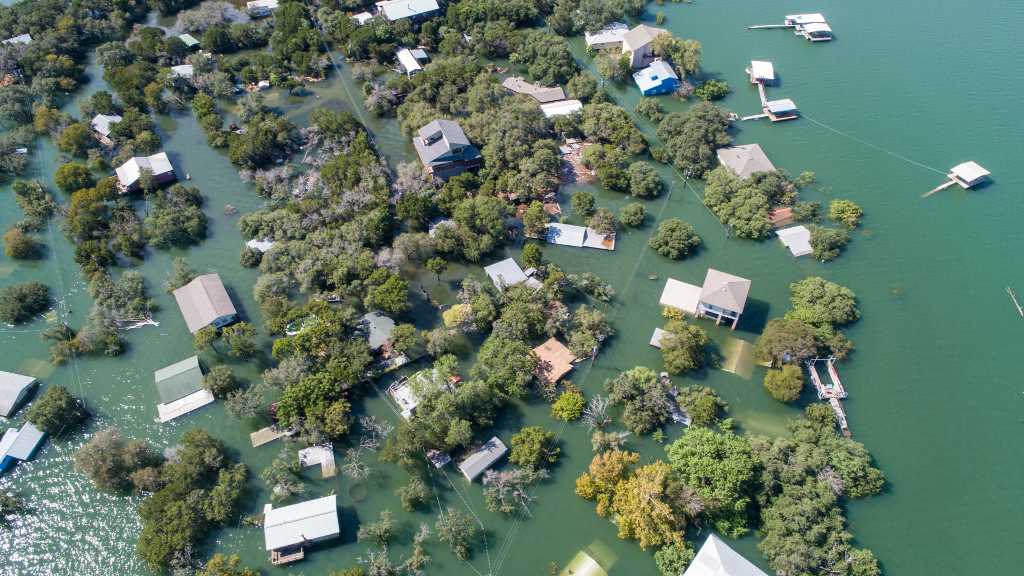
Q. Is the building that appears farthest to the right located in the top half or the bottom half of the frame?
top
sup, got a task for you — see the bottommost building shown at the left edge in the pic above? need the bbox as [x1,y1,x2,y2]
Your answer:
[0,421,51,471]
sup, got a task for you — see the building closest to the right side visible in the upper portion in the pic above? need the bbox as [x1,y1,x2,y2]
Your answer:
[944,160,989,192]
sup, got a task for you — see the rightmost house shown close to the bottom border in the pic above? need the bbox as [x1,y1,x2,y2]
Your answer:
[683,534,767,576]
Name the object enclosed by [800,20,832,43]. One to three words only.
building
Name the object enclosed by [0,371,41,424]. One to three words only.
house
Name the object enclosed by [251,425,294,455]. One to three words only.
shed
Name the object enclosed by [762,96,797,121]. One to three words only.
building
